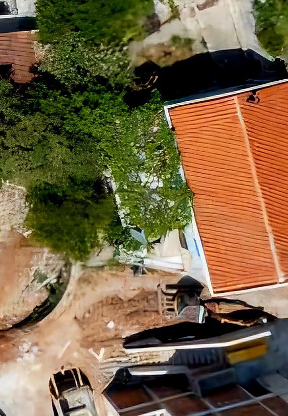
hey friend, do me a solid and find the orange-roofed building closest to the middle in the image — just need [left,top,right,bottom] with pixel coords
[163,78,288,297]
